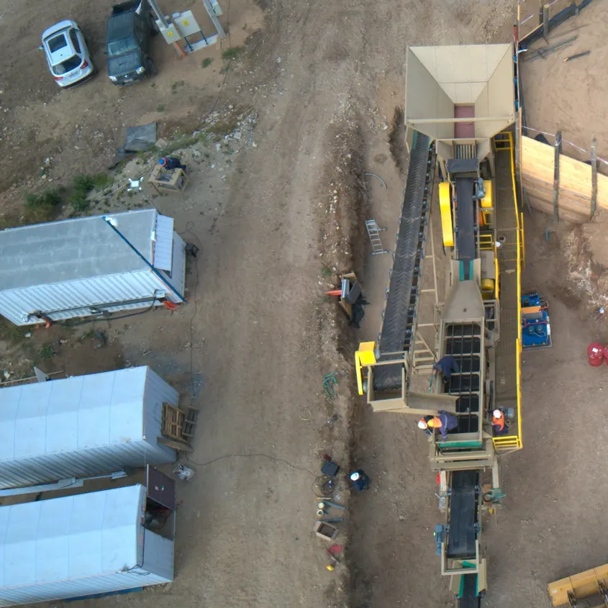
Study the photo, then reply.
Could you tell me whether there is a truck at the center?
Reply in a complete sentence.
No, no truck appears at the center.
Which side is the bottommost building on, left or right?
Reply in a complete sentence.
The bottommost building is on the left side of the image.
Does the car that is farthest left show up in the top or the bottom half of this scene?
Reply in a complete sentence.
The car that is farthest left sits in the top half of the picture.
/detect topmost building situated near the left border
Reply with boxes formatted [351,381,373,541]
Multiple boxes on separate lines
[0,210,189,330]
